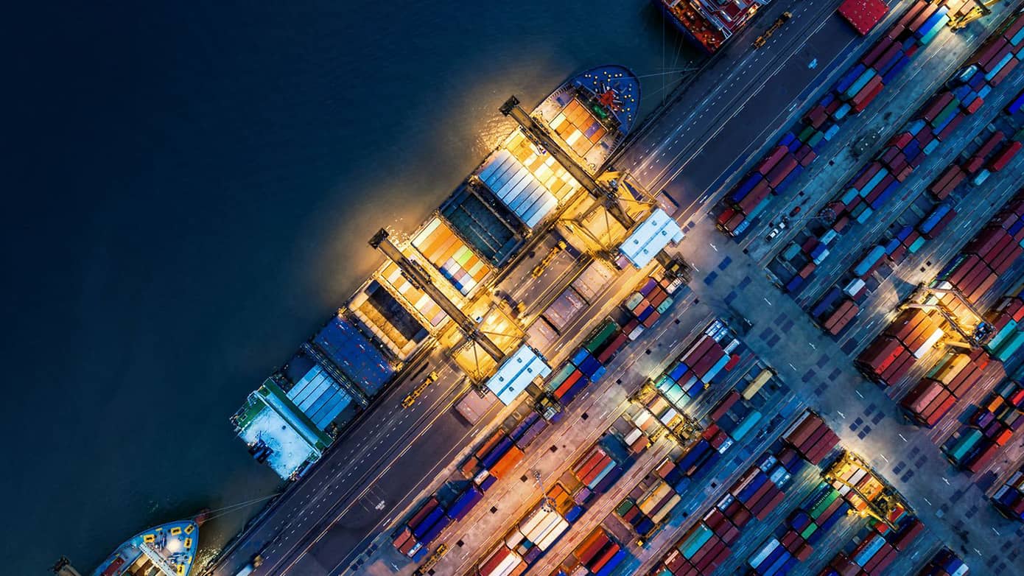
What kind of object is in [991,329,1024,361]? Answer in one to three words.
shipping container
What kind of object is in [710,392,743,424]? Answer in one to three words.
shipping container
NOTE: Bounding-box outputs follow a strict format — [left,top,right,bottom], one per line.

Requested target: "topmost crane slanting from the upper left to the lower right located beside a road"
[499,89,686,274]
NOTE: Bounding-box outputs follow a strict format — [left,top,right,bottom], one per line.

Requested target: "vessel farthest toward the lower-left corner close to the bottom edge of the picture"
[94,500,219,576]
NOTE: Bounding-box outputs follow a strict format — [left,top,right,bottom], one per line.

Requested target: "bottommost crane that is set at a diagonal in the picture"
[815,446,912,529]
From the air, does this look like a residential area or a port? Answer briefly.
port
